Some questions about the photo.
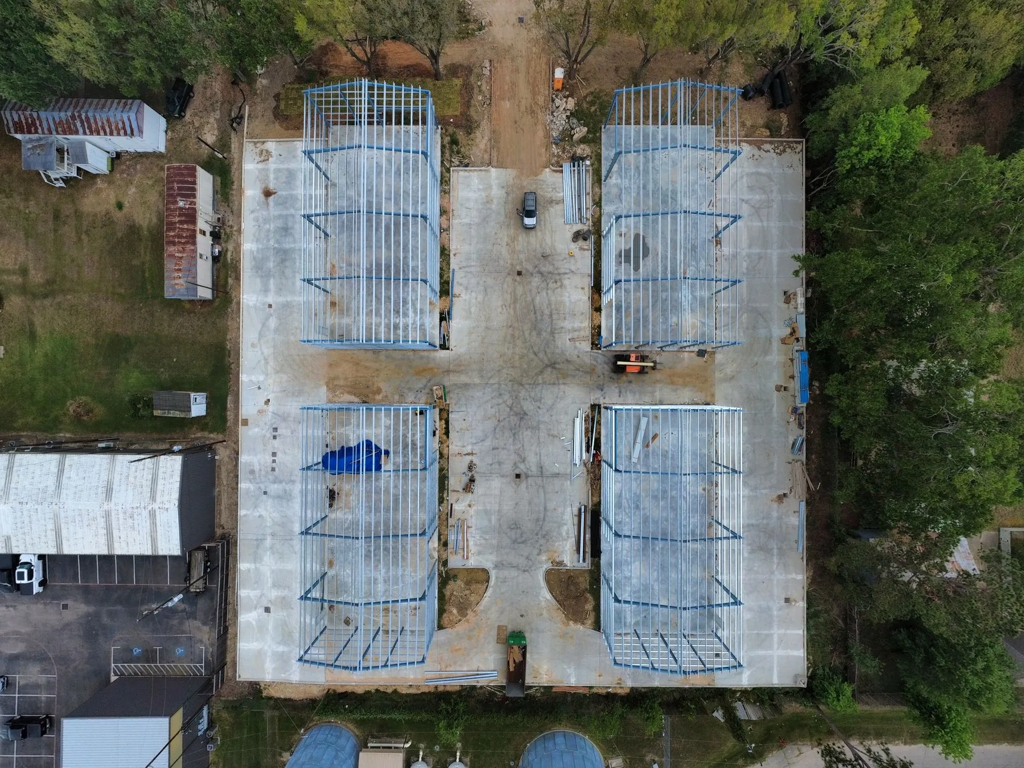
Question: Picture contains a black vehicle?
Yes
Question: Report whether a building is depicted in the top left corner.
Yes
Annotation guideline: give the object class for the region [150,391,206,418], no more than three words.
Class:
shed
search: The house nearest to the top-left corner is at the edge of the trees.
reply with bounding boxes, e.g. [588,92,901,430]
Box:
[0,97,163,195]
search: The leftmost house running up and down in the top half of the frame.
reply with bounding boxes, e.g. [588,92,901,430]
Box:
[164,163,225,302]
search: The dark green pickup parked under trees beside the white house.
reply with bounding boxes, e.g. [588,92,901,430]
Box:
[169,75,194,118]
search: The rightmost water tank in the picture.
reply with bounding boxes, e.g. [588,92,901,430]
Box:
[519,728,607,768]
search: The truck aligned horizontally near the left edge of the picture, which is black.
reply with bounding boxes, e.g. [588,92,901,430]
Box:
[8,714,56,735]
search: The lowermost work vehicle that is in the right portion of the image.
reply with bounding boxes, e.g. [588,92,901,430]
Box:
[615,353,660,374]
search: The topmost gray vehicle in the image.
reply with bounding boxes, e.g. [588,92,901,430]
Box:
[513,192,537,229]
